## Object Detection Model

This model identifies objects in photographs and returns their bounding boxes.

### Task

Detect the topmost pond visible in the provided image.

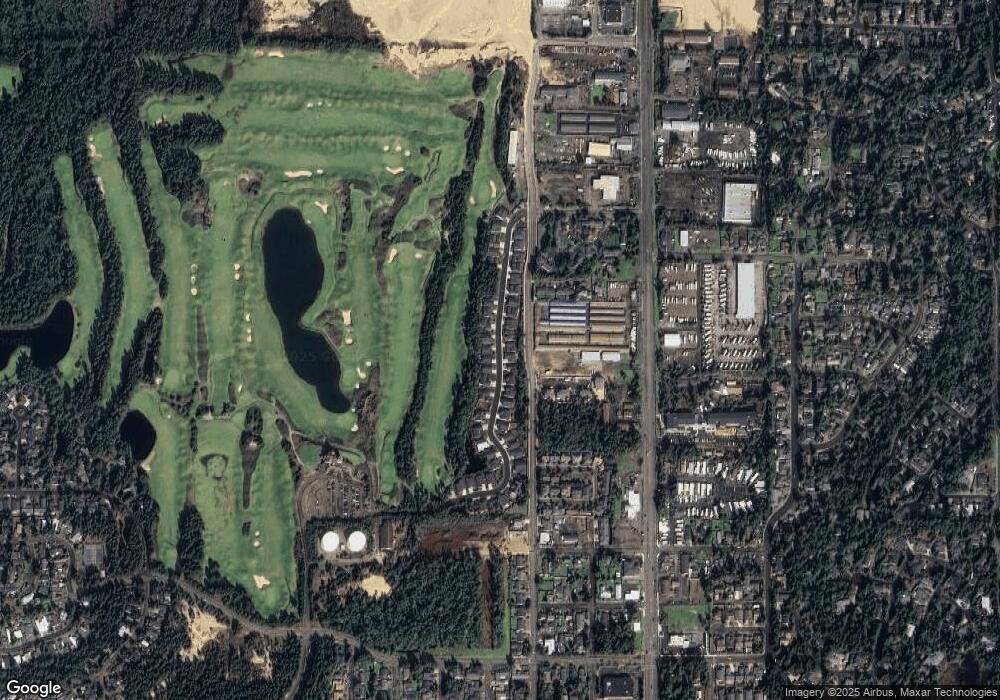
[0,301,73,369]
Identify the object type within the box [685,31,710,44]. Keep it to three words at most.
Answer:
building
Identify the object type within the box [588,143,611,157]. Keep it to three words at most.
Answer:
building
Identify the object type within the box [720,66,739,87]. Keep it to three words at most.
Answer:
shed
